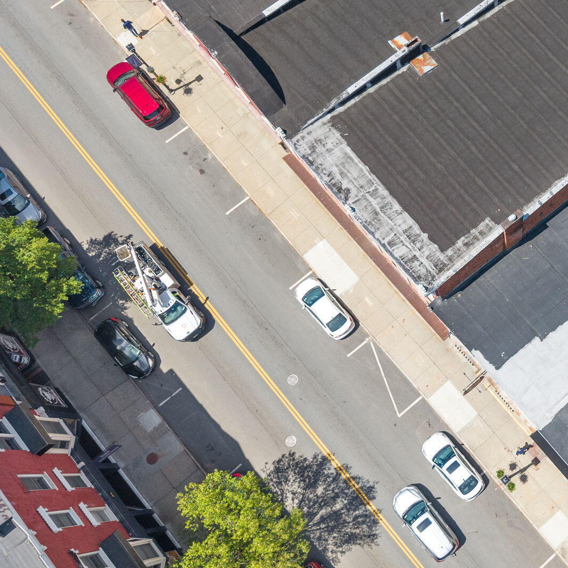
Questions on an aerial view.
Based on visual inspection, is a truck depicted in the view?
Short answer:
Yes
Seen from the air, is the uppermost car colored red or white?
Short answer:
red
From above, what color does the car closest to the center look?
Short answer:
white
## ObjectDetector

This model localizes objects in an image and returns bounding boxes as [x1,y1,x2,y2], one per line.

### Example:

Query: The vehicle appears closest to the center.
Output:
[295,274,359,345]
